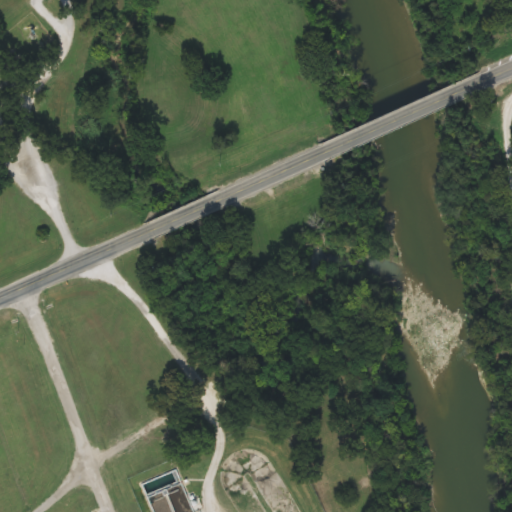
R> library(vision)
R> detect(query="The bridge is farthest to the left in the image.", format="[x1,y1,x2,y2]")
[143,191,222,240]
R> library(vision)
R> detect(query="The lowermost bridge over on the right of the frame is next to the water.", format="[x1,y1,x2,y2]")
[318,74,482,162]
